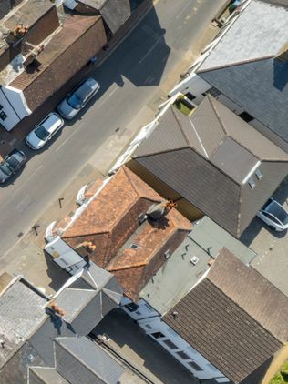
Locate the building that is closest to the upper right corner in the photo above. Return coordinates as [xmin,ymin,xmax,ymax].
[168,0,288,154]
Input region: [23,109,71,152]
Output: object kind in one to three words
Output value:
car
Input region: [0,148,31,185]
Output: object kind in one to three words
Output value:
car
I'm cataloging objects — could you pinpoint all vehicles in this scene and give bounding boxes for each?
[254,201,288,241]
[0,148,31,185]
[54,73,106,120]
[23,109,71,152]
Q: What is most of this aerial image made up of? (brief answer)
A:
buildings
